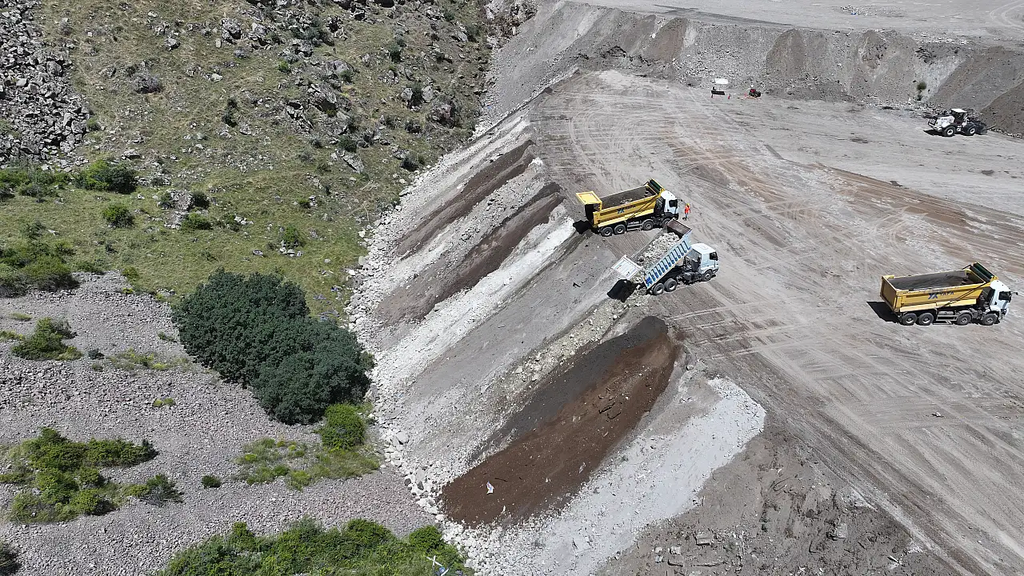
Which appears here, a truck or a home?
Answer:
truck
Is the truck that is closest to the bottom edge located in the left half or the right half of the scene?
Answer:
right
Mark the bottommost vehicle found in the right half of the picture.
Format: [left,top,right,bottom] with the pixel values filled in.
[880,263,1021,324]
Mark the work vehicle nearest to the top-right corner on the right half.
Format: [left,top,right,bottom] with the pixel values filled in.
[926,108,988,136]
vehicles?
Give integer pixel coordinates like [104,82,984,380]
[880,263,1021,324]
[749,89,762,97]
[926,108,988,136]
[570,179,683,236]
[612,221,727,295]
